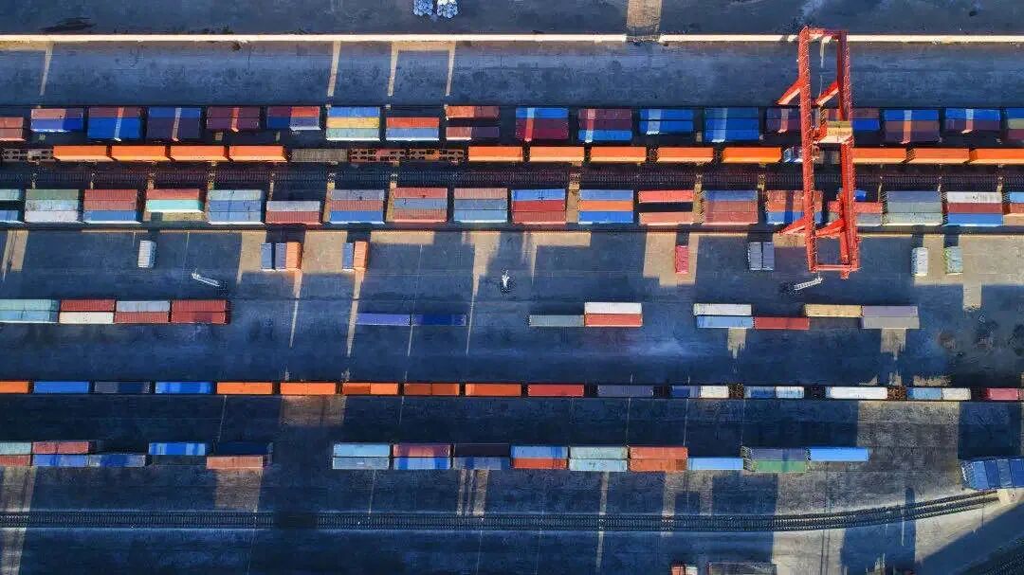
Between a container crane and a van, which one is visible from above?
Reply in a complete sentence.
I can see a container crane in this picture.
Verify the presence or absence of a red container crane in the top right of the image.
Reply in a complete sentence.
Yes, looking in the top right of the image, one can make out a red container crane.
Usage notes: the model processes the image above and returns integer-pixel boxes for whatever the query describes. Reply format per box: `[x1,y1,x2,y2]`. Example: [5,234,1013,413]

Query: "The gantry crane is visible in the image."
[774,24,862,280]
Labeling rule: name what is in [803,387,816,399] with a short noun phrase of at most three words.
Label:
rail car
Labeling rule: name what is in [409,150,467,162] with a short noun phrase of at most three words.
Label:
rail car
